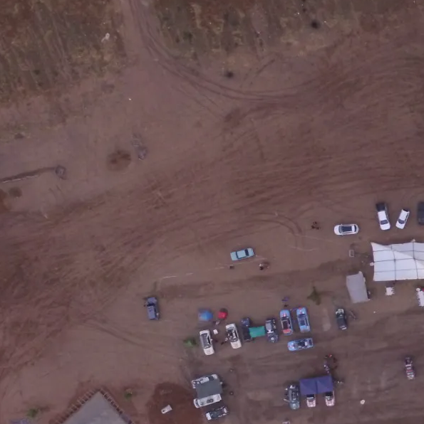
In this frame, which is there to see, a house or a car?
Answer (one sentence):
The one in the frame is a car.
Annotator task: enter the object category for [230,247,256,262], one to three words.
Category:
car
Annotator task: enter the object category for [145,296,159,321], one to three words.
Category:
car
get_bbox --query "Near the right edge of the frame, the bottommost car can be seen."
[403,356,417,379]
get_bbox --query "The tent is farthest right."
[369,238,424,284]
